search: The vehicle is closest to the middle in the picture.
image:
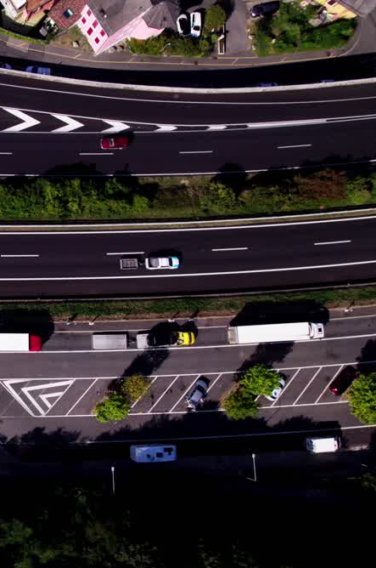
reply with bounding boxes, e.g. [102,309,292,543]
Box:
[146,256,178,270]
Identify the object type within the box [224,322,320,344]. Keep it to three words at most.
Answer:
truck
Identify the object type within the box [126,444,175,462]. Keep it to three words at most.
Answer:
vehicle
